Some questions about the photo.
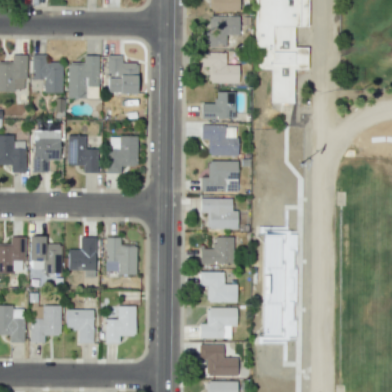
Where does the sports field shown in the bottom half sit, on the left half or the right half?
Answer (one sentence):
You can find the sports field shown in the bottom half on the right side of the picture.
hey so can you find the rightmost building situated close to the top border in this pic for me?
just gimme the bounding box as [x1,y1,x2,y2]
[256,0,310,104]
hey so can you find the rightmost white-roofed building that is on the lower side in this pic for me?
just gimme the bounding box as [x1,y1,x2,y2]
[257,226,298,344]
